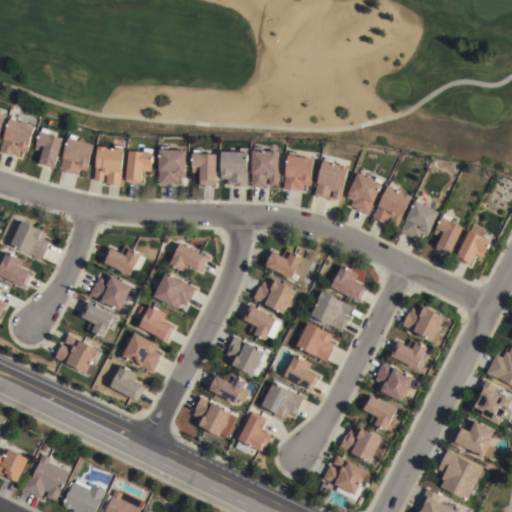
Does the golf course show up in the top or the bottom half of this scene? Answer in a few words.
top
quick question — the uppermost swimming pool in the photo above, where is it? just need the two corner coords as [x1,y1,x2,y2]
[276,349,292,374]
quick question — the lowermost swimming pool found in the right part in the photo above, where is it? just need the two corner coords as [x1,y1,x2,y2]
[331,492,348,508]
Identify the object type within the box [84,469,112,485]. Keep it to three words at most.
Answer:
swimming pool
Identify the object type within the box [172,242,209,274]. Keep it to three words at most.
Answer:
house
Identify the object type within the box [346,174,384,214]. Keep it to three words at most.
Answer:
house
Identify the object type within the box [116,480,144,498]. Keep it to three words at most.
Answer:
swimming pool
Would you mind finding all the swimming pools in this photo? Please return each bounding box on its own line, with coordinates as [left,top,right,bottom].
[331,492,348,508]
[84,469,112,485]
[116,480,144,498]
[496,438,510,455]
[276,349,292,374]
